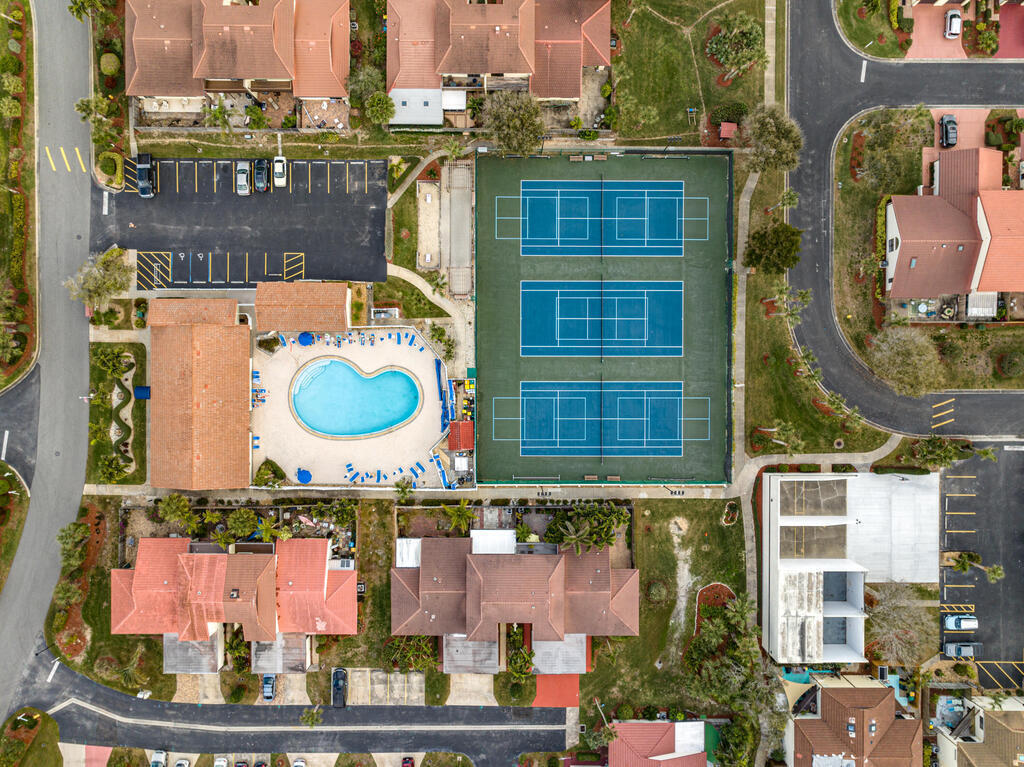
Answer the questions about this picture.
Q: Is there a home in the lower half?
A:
Yes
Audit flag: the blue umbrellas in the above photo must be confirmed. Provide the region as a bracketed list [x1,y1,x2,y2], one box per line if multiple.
[298,469,312,483]
[299,332,313,346]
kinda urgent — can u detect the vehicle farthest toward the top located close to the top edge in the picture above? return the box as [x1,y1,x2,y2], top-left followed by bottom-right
[942,10,961,41]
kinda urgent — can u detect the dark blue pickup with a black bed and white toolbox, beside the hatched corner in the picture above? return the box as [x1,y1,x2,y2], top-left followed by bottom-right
[136,156,155,198]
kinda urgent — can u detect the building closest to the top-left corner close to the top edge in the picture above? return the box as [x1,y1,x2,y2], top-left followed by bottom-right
[126,0,350,101]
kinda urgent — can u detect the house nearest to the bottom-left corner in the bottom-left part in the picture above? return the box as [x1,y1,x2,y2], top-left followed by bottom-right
[111,537,358,674]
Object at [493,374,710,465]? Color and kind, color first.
blue tennis court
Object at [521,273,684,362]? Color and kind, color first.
blue tennis court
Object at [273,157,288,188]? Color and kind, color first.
white car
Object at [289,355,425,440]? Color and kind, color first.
blue swimming pool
